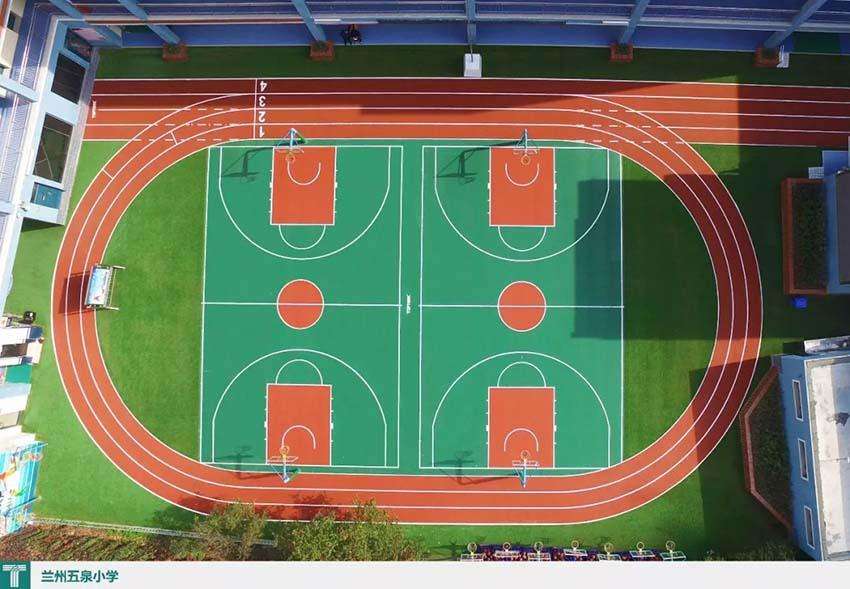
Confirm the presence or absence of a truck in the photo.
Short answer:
No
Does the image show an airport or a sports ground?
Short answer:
sports ground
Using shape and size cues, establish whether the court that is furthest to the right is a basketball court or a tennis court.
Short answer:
basketball court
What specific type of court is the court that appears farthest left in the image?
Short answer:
basketball court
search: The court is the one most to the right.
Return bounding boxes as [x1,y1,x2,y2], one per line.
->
[408,137,625,479]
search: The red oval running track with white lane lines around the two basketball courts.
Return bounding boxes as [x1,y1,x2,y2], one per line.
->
[51,76,850,529]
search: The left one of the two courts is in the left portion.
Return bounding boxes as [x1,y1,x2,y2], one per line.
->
[200,138,413,477]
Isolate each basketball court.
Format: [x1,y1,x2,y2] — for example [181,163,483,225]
[200,138,413,477]
[408,137,625,479]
